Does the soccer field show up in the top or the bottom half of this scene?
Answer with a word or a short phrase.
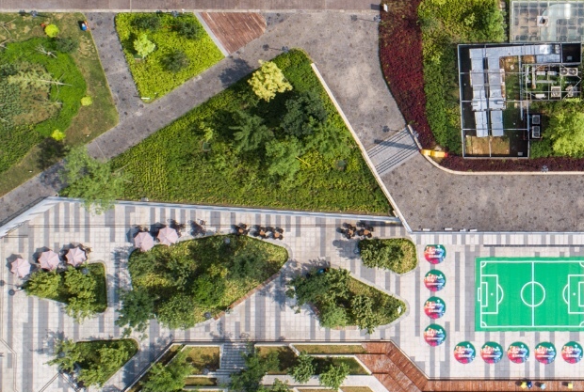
bottom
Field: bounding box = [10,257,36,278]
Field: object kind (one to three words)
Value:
umbrella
